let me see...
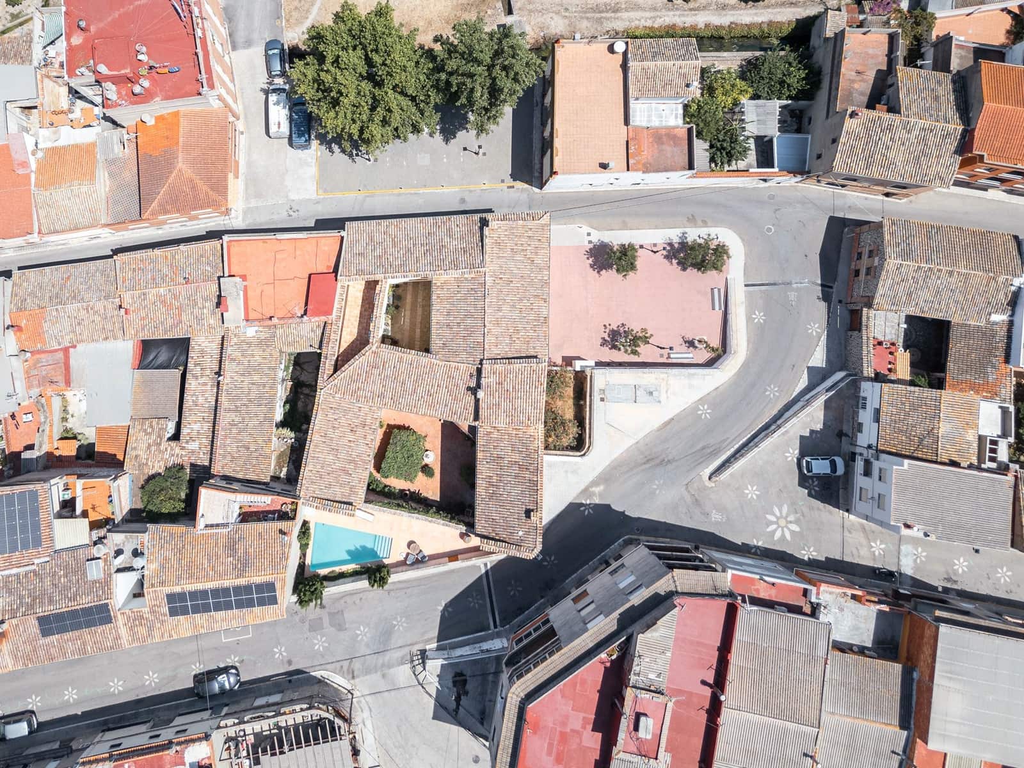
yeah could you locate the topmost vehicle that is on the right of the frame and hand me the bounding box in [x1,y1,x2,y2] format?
[799,455,842,476]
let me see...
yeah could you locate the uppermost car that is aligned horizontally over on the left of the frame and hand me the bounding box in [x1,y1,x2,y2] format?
[195,667,241,694]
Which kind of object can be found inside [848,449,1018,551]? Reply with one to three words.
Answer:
house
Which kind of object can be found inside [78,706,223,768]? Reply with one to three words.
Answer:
house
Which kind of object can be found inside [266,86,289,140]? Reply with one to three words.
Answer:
vehicle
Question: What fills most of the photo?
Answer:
buildings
